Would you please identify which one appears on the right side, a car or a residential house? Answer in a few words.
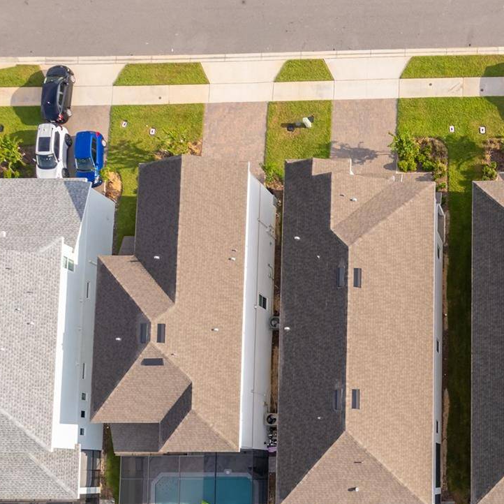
residential house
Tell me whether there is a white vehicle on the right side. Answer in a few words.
No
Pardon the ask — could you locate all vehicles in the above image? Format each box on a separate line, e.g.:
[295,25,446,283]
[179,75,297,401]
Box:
[31,121,68,177]
[37,65,74,125]
[69,128,103,185]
